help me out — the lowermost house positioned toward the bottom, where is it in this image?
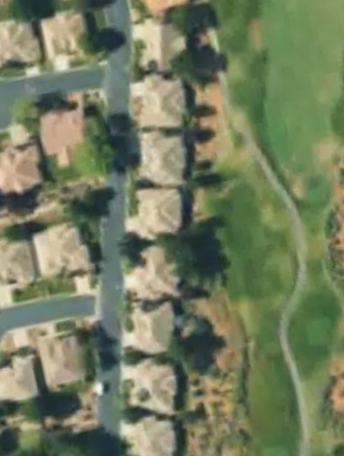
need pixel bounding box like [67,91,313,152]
[126,418,178,456]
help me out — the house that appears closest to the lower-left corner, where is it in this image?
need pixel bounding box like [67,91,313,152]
[0,356,40,401]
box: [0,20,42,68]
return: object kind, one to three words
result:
house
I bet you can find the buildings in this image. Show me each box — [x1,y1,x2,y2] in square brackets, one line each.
[0,146,42,195]
[135,77,185,127]
[0,356,40,401]
[42,12,85,61]
[140,133,187,184]
[34,226,89,276]
[39,113,83,166]
[0,20,42,68]
[0,239,37,289]
[133,189,184,236]
[39,340,84,387]
[129,248,179,300]
[126,362,176,412]
[126,304,174,353]
[126,418,178,456]
[136,19,185,72]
